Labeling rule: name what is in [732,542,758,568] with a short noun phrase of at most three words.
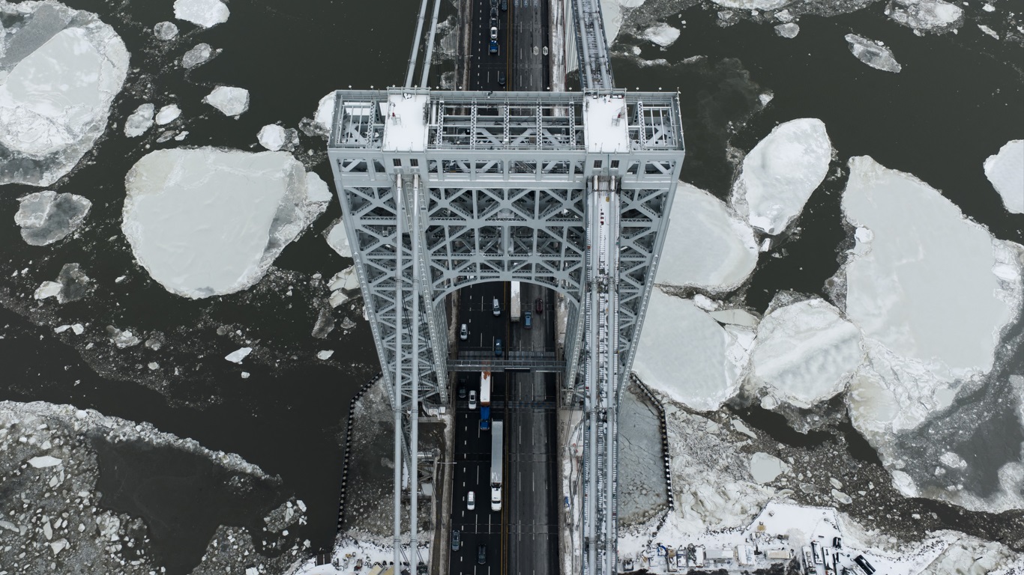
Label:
shed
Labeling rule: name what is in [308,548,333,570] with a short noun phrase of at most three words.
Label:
pier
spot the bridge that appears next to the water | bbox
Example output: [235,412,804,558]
[325,0,687,575]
